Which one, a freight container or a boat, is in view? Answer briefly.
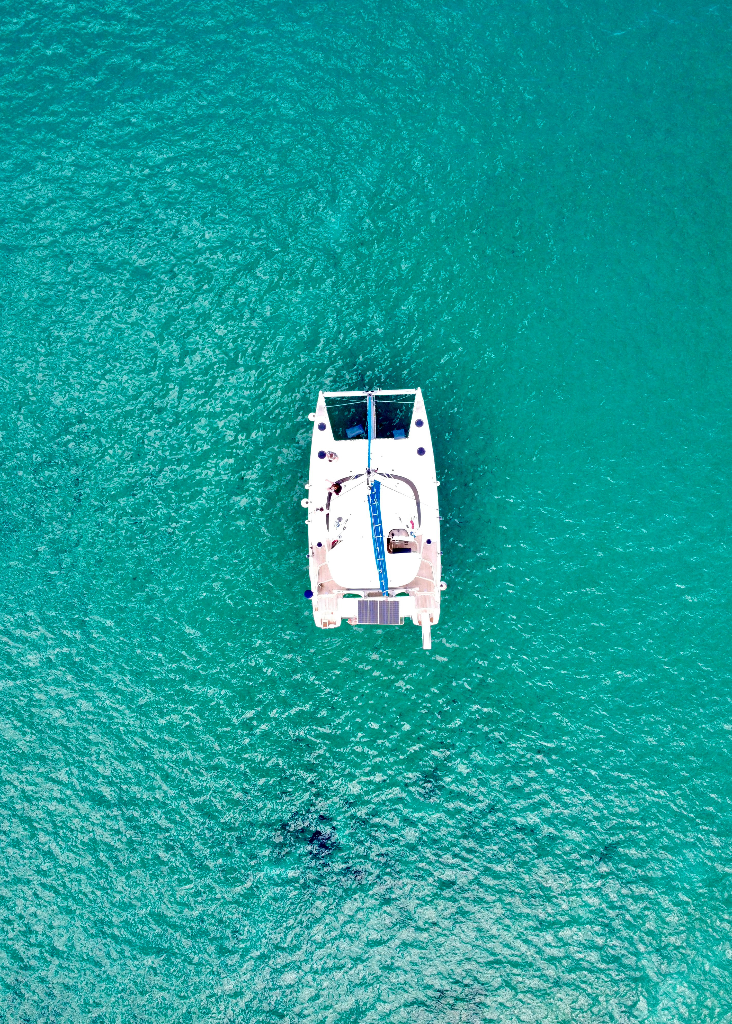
boat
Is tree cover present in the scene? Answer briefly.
No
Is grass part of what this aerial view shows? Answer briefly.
No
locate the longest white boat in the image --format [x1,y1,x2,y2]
[308,374,441,649]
